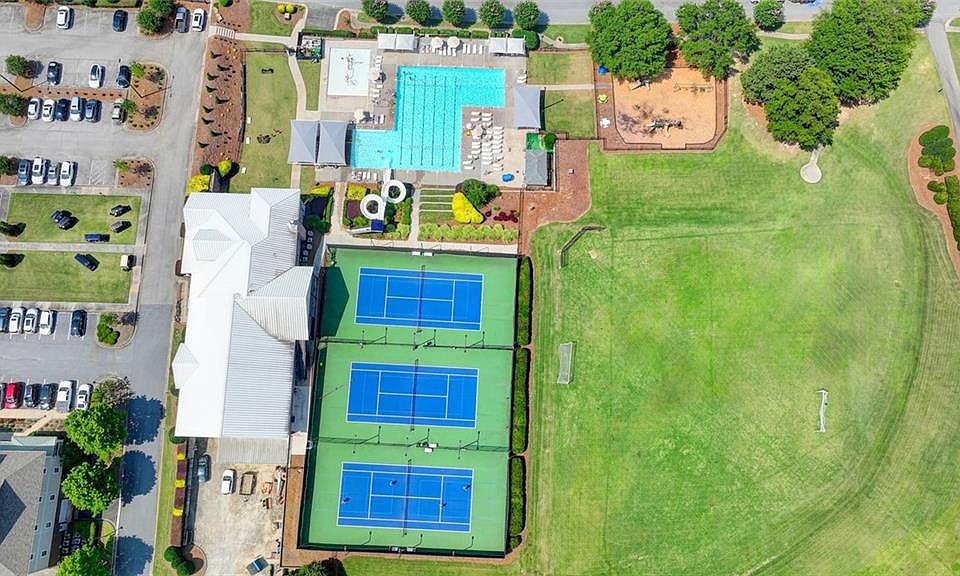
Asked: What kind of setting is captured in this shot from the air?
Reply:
sports ground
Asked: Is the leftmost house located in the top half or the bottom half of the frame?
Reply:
bottom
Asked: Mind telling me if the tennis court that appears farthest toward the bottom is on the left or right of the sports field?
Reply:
left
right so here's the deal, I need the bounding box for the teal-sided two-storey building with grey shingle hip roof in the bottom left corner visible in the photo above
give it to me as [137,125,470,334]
[0,432,63,576]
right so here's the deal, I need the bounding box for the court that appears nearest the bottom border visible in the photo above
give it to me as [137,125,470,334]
[301,442,508,555]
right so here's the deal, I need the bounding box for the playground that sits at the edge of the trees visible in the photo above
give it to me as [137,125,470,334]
[597,66,728,149]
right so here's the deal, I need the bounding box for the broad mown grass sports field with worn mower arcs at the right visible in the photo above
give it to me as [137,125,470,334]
[540,196,928,576]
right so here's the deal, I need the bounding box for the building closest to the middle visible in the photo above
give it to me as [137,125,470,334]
[524,150,548,189]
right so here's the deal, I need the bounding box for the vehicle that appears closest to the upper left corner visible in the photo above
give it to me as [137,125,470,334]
[56,7,71,29]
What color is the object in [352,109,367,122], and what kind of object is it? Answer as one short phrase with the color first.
white umbrella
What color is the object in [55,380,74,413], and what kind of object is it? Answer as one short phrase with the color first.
white vehicle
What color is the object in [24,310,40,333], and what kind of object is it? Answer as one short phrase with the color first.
white car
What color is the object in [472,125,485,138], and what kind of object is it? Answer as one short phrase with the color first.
white umbrella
